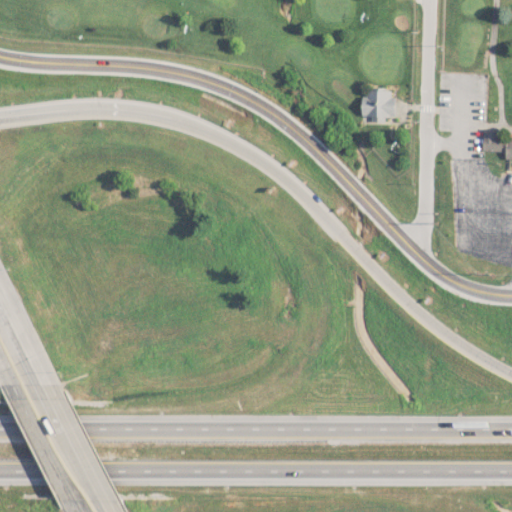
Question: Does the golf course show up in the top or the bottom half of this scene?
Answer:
top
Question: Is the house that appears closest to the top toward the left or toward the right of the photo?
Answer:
right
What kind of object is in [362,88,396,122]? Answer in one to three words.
house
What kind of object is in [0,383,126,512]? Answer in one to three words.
bridge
